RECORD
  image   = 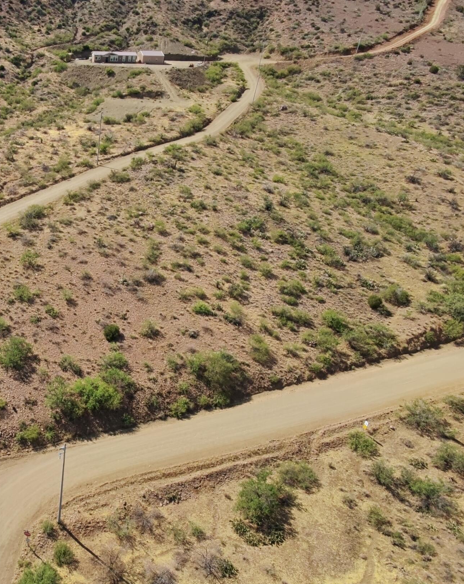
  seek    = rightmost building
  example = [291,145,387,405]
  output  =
[139,48,167,64]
